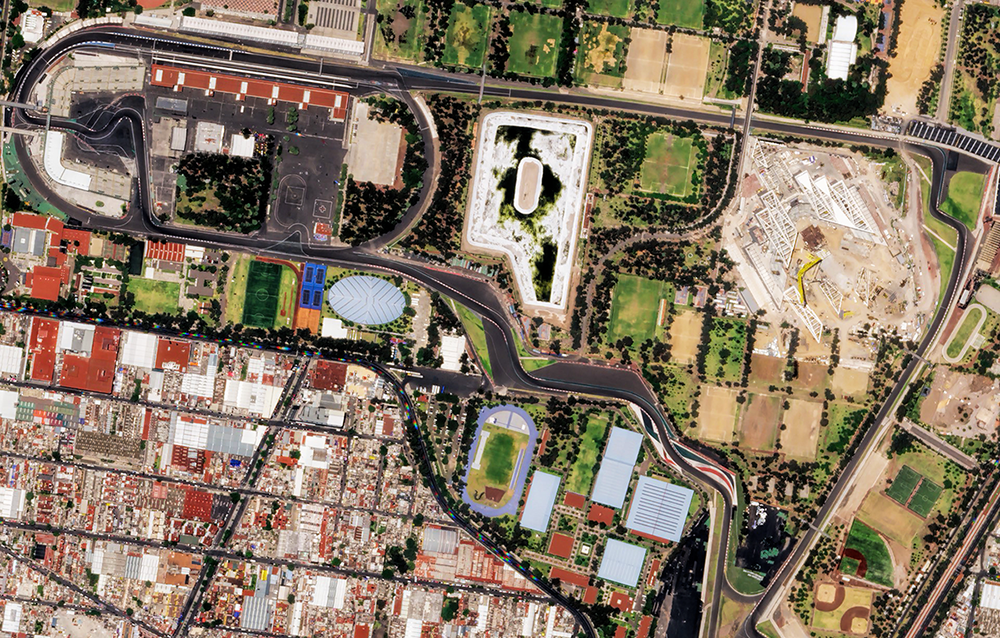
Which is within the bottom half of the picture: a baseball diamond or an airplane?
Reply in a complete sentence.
There is a baseball diamond within the bottom half of the picture.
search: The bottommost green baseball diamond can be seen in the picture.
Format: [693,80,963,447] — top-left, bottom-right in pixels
[839,517,899,589]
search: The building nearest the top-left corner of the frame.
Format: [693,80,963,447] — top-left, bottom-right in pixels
[20,8,48,42]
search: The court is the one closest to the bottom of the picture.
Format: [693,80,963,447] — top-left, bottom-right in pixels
[549,532,574,558]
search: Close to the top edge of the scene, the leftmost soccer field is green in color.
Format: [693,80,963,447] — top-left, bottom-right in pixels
[441,3,490,66]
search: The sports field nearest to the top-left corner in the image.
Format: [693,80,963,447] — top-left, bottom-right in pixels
[129,278,180,313]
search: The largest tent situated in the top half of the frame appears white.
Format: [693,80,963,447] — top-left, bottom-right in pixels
[230,134,255,157]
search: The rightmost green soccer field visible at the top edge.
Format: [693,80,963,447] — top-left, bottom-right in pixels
[657,0,704,28]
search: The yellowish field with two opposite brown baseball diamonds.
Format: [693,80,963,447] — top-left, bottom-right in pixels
[811,581,874,636]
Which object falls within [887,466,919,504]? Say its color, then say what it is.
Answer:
green soccer field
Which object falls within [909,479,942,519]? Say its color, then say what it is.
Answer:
green soccer field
